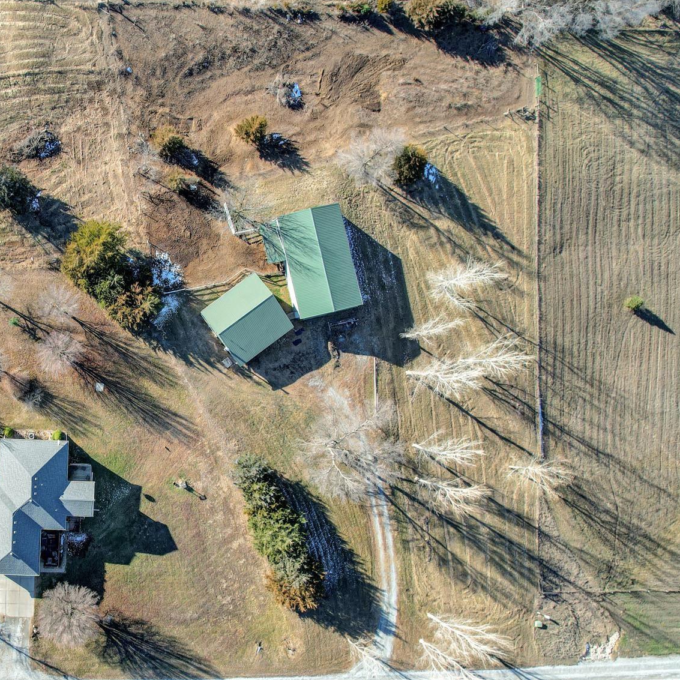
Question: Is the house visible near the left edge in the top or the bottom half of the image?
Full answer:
It is in the bottom half that the house visible near the left edge appears.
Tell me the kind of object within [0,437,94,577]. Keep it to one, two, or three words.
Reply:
house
